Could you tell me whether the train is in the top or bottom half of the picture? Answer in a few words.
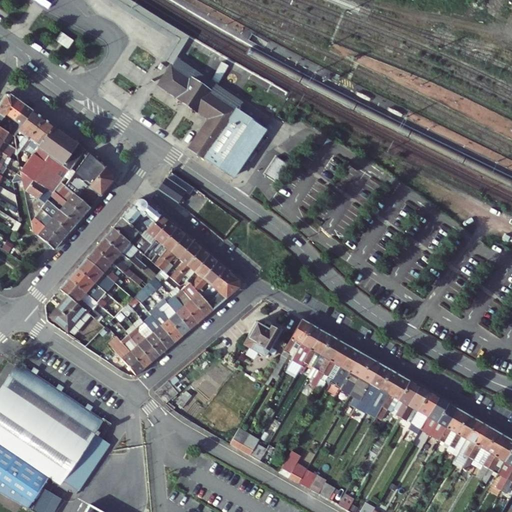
top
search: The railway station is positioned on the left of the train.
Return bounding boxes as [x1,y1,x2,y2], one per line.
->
[161,66,231,159]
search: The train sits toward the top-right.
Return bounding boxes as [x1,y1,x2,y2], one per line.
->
[249,48,512,188]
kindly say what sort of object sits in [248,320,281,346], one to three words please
house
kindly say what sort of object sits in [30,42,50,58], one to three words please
vehicle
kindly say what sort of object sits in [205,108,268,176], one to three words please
building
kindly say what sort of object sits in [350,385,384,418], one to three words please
shed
